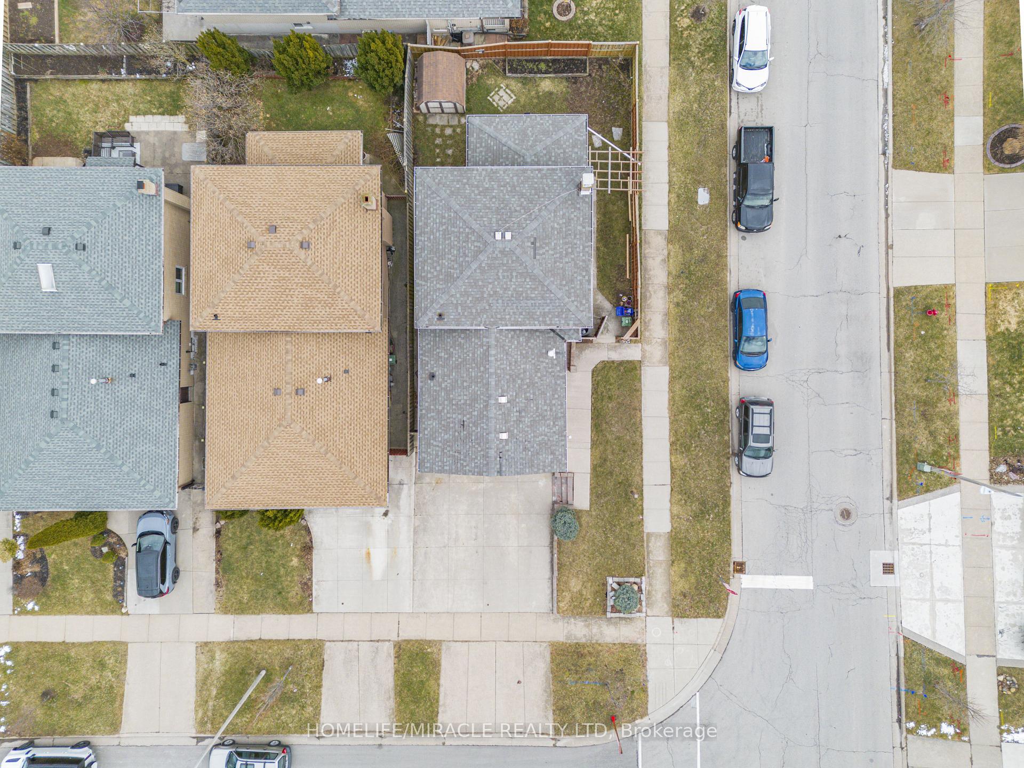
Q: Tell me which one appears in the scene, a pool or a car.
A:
car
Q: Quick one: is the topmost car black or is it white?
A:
white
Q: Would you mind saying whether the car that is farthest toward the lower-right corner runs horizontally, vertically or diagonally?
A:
vertically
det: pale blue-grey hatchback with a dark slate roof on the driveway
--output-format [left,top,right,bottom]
[129,513,178,599]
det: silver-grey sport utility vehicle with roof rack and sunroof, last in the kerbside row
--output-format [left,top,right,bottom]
[731,395,775,479]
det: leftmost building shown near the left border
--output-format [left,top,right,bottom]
[0,156,197,513]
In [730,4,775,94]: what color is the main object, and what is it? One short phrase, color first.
white car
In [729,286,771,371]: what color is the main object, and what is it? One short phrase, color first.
blue car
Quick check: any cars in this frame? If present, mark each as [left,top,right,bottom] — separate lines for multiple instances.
[129,513,178,599]
[730,4,775,94]
[729,286,771,371]
[0,741,99,768]
[731,395,775,479]
[209,739,294,768]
